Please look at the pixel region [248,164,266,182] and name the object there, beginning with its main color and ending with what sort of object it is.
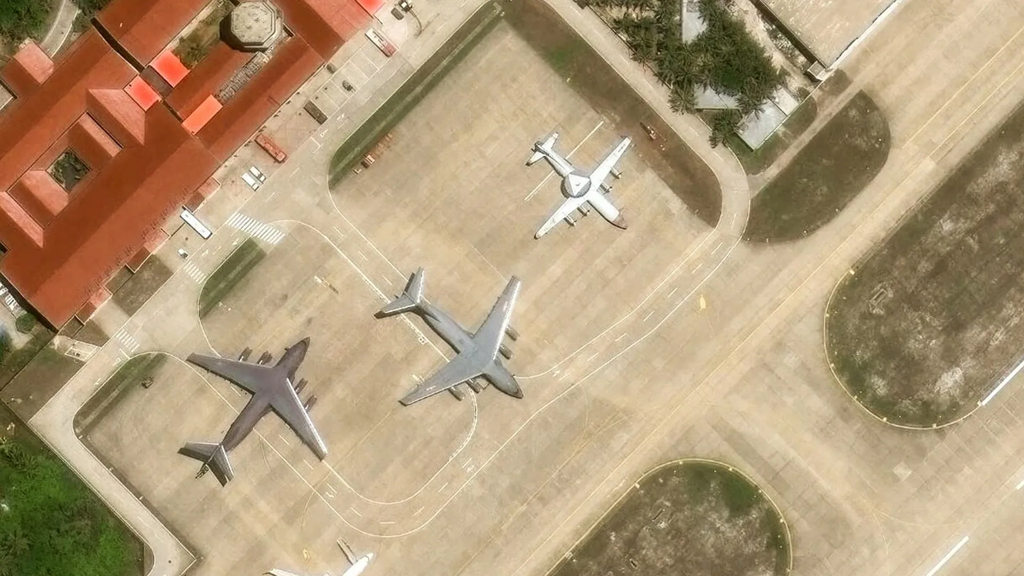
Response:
white vehicle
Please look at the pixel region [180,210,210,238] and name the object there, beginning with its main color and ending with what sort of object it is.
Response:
white bus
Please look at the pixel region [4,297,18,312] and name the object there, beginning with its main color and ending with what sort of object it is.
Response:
white car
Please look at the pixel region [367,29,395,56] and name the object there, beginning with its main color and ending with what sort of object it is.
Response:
white bus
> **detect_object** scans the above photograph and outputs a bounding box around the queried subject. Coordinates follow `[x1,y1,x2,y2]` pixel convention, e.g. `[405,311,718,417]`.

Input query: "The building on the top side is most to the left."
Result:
[0,26,224,329]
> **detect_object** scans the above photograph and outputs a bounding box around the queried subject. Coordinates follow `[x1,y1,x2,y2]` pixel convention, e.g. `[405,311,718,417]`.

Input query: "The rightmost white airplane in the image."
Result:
[525,131,630,237]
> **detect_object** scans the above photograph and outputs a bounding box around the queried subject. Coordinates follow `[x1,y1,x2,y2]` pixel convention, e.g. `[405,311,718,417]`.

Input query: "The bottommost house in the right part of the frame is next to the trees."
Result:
[735,101,787,149]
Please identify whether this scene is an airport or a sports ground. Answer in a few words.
airport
